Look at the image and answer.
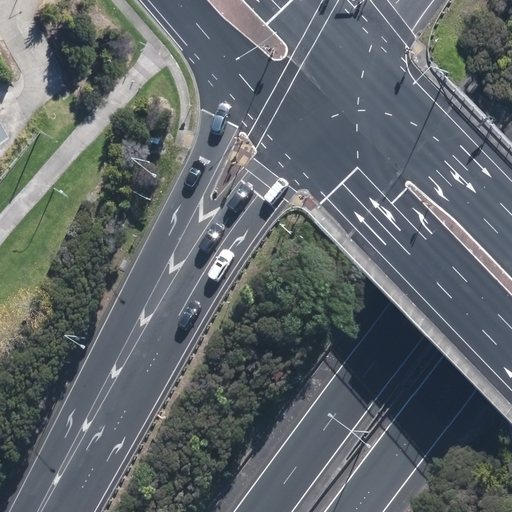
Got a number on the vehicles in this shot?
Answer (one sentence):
In total, there are 7 vehicles in the scene.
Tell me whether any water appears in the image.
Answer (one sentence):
No, water can't be seen anywhere here.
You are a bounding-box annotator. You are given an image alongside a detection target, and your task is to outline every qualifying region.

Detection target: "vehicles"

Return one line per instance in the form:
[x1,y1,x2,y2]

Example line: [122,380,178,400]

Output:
[178,299,204,332]
[263,176,289,206]
[210,102,232,137]
[226,180,256,216]
[207,247,236,284]
[185,156,210,190]
[198,220,227,256]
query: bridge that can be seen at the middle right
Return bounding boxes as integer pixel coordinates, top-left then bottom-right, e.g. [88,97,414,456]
[350,73,512,424]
